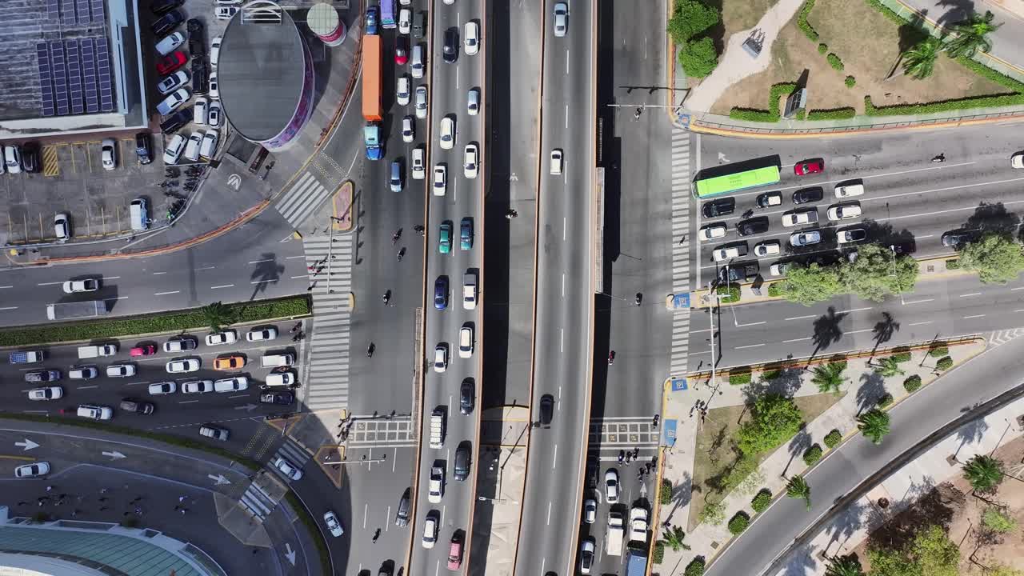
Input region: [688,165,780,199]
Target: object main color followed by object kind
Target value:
green bus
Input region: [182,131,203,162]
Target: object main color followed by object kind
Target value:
white vehicle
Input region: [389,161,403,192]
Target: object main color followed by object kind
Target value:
blue car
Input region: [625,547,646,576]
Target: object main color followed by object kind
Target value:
blue truck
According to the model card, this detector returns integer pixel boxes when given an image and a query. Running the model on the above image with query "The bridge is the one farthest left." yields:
[406,0,485,576]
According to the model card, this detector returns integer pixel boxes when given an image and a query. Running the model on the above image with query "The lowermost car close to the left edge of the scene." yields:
[16,461,53,476]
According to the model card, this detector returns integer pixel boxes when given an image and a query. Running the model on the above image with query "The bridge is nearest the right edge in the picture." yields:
[512,0,597,576]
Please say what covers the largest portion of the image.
paved ground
